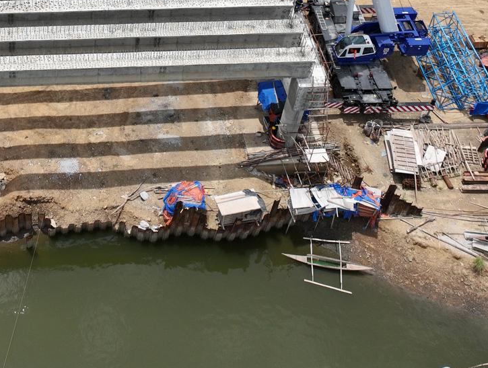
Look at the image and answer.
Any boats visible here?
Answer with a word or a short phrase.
Yes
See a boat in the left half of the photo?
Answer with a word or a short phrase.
No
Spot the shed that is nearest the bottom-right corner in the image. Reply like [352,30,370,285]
[284,182,383,244]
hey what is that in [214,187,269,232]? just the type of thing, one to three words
shed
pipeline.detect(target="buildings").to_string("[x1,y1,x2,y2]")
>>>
[214,187,269,232]
[284,182,383,244]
